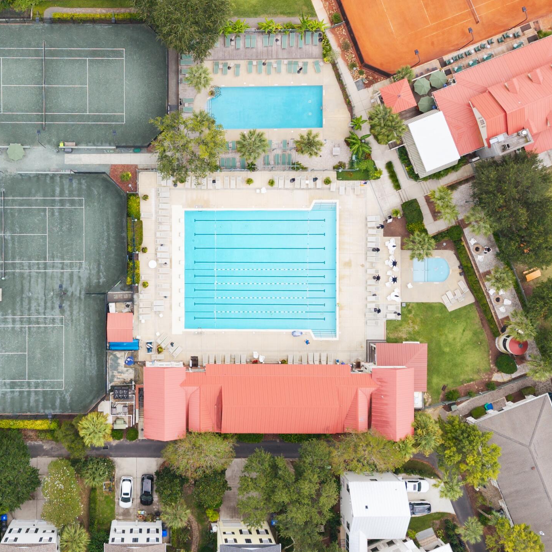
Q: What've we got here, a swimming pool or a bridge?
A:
swimming pool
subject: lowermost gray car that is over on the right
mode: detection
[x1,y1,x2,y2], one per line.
[408,502,434,518]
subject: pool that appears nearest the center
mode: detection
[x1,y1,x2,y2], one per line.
[172,199,339,341]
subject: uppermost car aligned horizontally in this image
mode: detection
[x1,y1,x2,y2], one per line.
[401,479,433,495]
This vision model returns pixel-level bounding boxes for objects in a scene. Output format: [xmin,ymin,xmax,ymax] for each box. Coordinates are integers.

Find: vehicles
[118,476,134,508]
[401,479,433,495]
[408,502,434,518]
[139,473,155,506]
